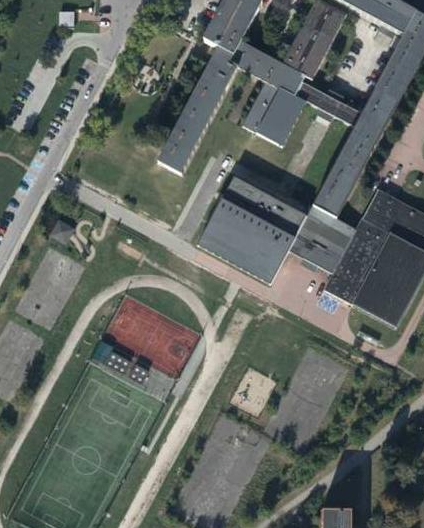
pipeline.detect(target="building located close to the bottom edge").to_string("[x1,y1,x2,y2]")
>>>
[320,508,353,528]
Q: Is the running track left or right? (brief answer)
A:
left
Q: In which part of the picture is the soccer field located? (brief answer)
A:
bottom left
